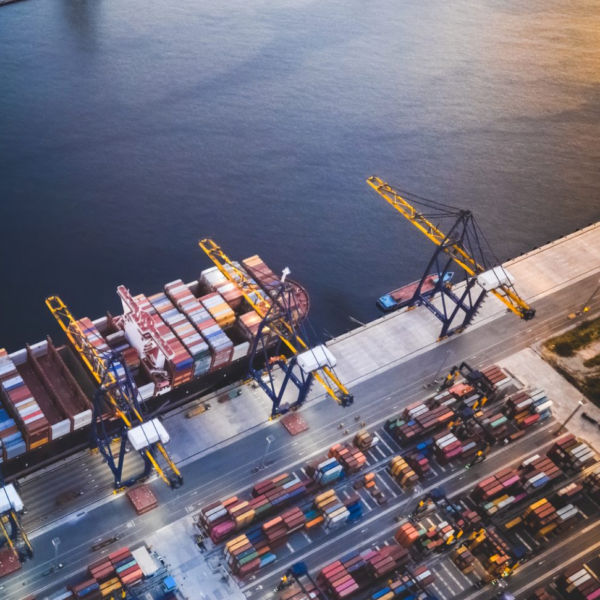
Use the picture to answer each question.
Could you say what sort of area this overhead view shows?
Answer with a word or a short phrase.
port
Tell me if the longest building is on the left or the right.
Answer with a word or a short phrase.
left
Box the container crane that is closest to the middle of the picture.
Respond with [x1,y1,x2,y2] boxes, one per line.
[200,240,356,420]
